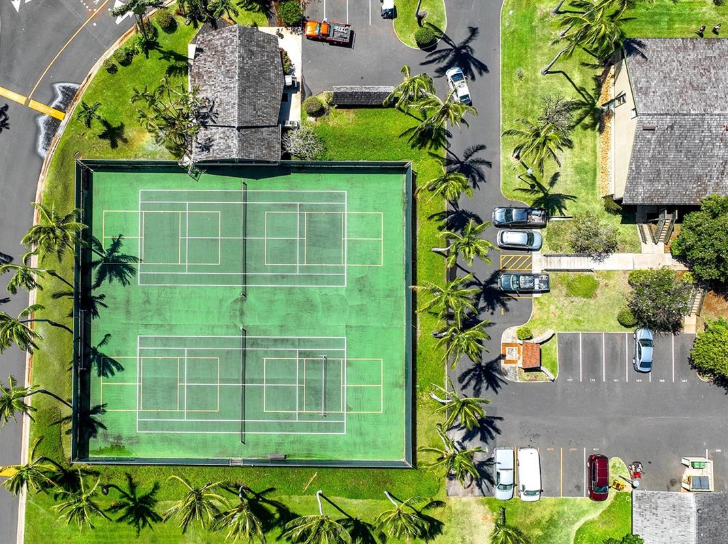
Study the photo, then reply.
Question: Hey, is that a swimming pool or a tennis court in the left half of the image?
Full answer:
It is a tennis court that can be seen in the left half of the image.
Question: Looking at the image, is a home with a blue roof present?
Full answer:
No, I find no home with a blue roof anywhere in the image.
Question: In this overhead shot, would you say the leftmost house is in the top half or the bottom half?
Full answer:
The leftmost house is in the top half of the image.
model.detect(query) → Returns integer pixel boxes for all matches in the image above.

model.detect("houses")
[632,492,728,544]
[599,38,728,245]
[191,24,285,161]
